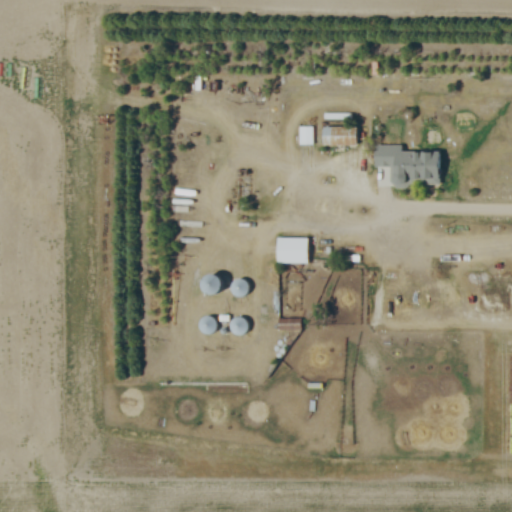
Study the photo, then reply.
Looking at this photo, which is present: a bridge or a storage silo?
storage silo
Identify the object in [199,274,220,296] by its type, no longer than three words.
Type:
silo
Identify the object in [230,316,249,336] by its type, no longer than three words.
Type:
silo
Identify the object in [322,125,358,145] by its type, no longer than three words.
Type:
barn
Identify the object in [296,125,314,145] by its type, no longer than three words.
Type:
shed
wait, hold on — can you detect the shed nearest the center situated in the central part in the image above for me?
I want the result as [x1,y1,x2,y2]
[277,237,308,264]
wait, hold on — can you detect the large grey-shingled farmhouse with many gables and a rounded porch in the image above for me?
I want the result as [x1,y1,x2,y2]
[375,144,442,188]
